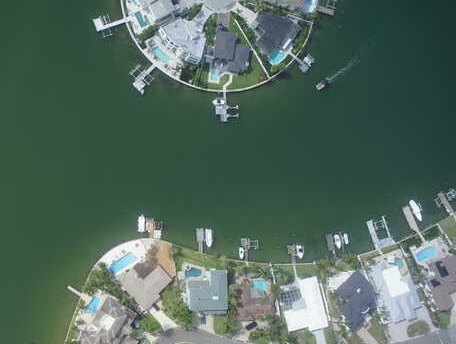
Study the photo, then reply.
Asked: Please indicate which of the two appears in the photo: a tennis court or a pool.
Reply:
pool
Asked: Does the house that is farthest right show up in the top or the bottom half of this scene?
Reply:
bottom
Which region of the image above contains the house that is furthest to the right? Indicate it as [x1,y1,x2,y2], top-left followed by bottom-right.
[426,255,456,311]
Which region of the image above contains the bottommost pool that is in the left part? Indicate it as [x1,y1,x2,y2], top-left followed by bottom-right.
[84,297,102,315]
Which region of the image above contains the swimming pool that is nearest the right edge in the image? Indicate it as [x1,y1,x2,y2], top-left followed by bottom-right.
[415,245,437,261]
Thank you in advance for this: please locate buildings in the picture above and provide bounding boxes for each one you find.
[158,18,206,65]
[255,12,301,58]
[77,296,140,344]
[282,276,328,331]
[260,0,306,12]
[189,270,227,312]
[368,263,420,322]
[115,263,173,310]
[144,0,176,22]
[215,32,250,73]
[333,272,376,331]
[426,255,456,311]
